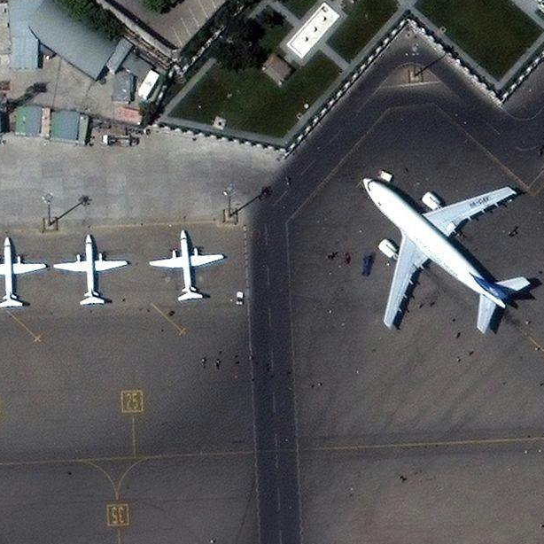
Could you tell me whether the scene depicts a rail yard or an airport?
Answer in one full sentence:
It's an airport.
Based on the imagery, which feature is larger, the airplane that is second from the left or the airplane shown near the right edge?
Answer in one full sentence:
The airplane that is second from the left is smaller than the airplane shown near the right edge.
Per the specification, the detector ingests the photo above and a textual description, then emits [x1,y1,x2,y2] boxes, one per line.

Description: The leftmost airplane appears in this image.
[0,237,45,309]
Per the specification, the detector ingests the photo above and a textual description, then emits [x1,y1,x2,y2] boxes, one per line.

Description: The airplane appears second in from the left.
[54,234,128,306]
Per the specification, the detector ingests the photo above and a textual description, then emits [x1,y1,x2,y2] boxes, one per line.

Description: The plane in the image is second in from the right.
[150,230,223,301]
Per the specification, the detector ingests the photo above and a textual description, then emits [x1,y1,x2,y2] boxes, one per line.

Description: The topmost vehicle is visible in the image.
[137,72,159,100]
